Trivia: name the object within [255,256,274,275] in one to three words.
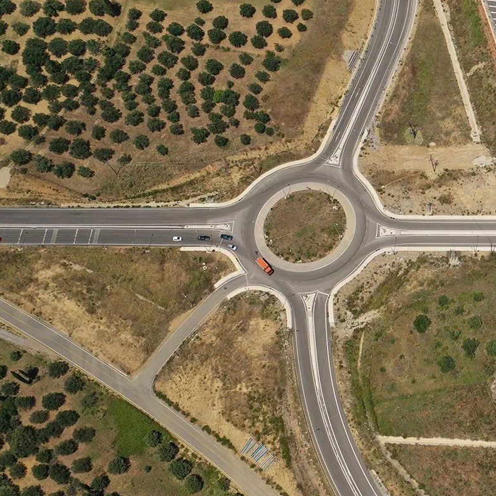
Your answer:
vehicle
